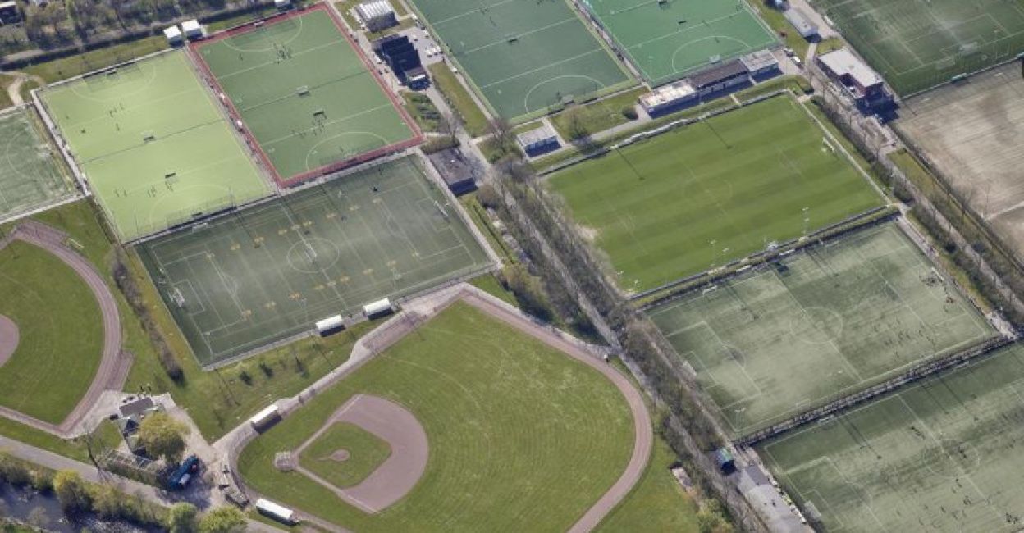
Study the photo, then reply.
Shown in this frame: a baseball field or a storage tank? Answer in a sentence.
It is a baseball field that can be seen here.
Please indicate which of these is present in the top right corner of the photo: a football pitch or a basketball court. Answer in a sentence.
Looking in the top right corner of the photo, you will find a football pitch.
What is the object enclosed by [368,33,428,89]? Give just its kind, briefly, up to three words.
building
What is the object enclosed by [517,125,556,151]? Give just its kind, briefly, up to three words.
building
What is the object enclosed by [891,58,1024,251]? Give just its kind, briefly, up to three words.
sports field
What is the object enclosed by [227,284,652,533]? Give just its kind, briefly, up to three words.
baseball field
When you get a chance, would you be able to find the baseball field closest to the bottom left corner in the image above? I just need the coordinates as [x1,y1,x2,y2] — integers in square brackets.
[0,219,134,438]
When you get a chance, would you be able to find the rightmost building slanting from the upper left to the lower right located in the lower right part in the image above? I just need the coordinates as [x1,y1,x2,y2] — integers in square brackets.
[737,464,808,533]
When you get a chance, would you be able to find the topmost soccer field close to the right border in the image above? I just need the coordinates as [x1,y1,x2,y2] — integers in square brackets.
[807,0,1024,98]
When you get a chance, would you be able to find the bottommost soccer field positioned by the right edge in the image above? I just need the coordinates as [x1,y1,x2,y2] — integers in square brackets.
[747,342,1024,533]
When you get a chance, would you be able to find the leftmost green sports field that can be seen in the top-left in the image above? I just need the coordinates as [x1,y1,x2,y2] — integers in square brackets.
[39,48,274,243]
